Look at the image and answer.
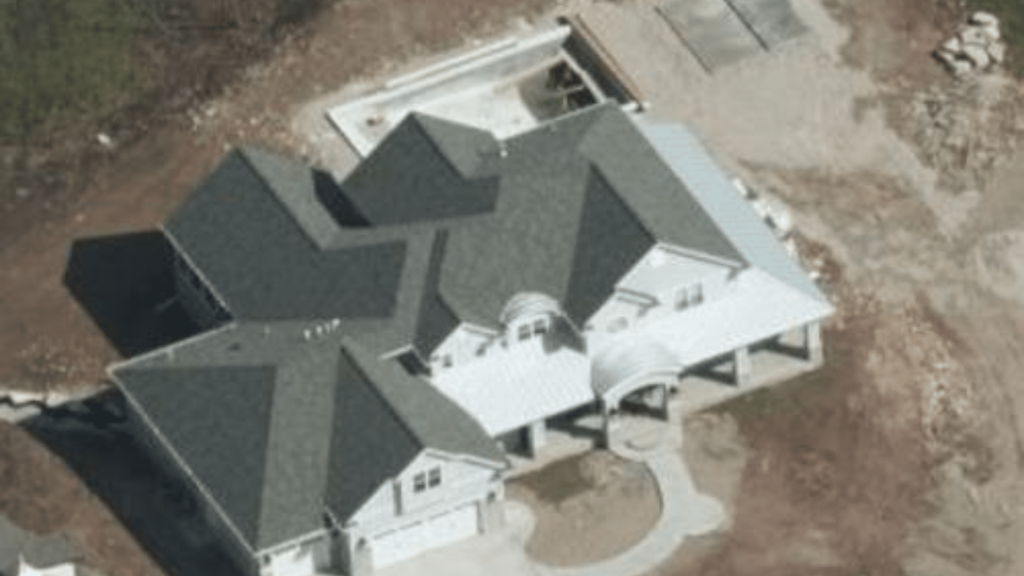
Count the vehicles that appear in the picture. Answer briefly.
0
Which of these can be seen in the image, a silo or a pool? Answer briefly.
pool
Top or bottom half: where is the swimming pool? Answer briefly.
top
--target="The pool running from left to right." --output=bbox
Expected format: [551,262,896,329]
[330,27,606,161]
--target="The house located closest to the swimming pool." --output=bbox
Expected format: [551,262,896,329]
[107,97,836,576]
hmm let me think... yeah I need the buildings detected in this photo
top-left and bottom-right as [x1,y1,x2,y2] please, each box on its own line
[0,510,72,576]
[107,97,836,576]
